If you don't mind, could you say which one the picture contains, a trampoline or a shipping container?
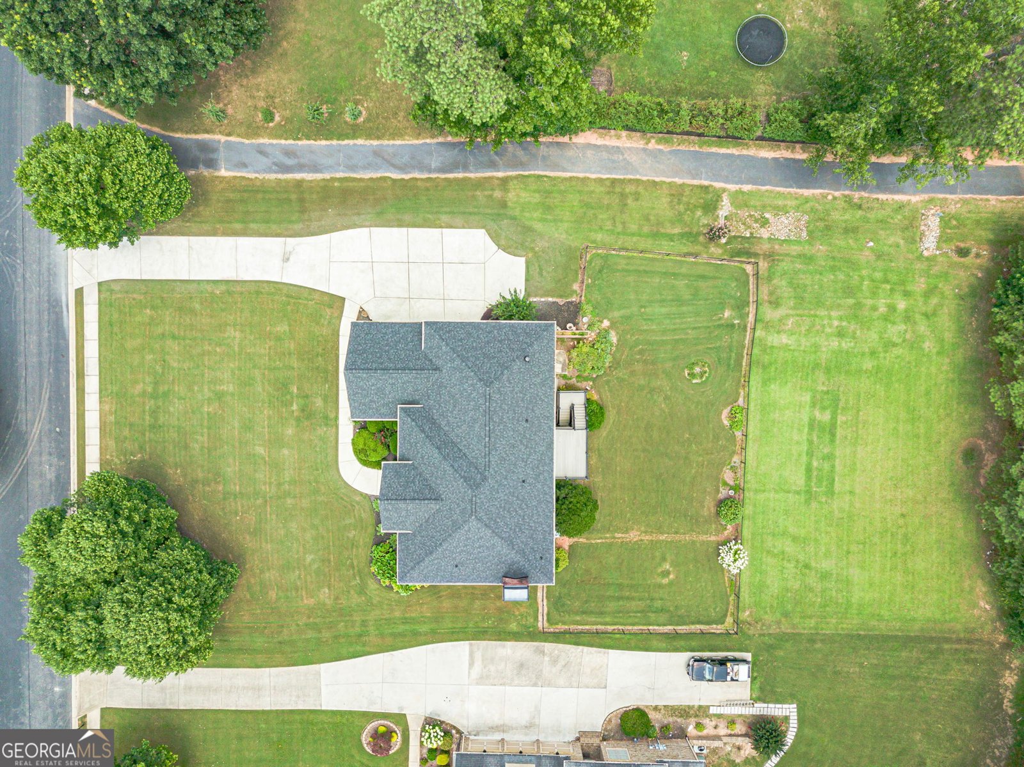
trampoline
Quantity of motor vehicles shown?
1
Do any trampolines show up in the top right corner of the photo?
Yes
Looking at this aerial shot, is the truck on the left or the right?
right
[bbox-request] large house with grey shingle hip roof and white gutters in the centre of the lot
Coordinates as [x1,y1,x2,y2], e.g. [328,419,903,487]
[343,320,556,601]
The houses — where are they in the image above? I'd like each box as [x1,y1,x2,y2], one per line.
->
[451,734,706,767]
[343,320,556,601]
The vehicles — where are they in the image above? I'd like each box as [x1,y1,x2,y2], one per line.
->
[685,655,748,687]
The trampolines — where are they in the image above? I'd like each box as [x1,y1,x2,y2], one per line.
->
[736,15,787,70]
